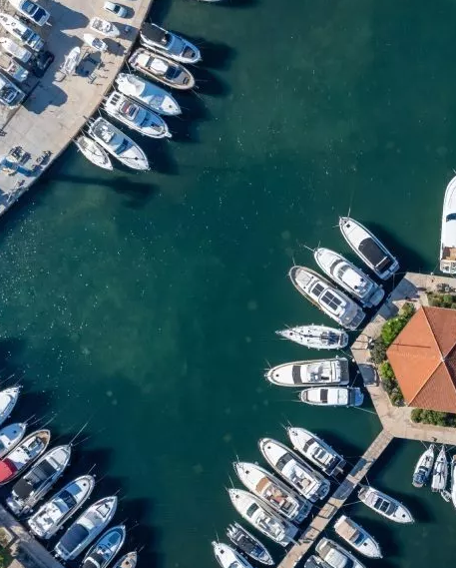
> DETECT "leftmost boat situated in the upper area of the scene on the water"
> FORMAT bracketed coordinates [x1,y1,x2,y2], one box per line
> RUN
[74,133,122,176]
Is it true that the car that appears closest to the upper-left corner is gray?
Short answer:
No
